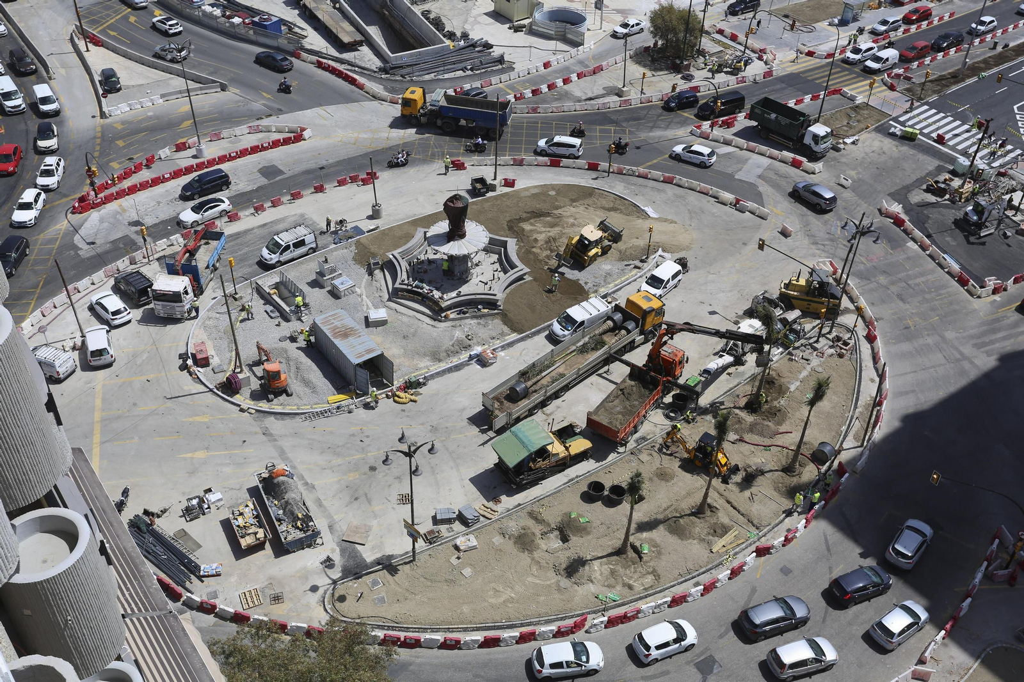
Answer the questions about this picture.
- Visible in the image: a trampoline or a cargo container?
cargo container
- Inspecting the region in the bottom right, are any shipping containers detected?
No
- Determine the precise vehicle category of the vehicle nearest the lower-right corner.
car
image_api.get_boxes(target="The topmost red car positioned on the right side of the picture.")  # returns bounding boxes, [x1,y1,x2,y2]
[901,5,933,25]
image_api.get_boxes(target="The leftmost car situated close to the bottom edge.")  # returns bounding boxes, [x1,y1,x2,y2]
[532,642,601,682]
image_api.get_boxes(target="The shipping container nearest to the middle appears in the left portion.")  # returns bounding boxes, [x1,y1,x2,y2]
[310,306,390,390]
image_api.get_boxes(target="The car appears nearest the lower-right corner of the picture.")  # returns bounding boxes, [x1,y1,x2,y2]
[866,602,929,656]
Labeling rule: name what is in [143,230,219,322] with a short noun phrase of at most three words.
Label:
truck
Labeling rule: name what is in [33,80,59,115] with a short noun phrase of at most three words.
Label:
vehicle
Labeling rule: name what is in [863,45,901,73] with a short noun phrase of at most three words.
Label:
van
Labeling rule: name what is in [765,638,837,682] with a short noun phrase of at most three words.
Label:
car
